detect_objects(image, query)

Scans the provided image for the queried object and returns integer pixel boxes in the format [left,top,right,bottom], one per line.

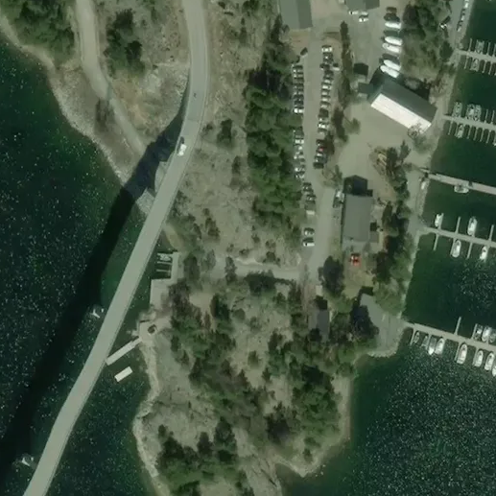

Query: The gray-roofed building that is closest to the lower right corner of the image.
[361,291,391,328]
